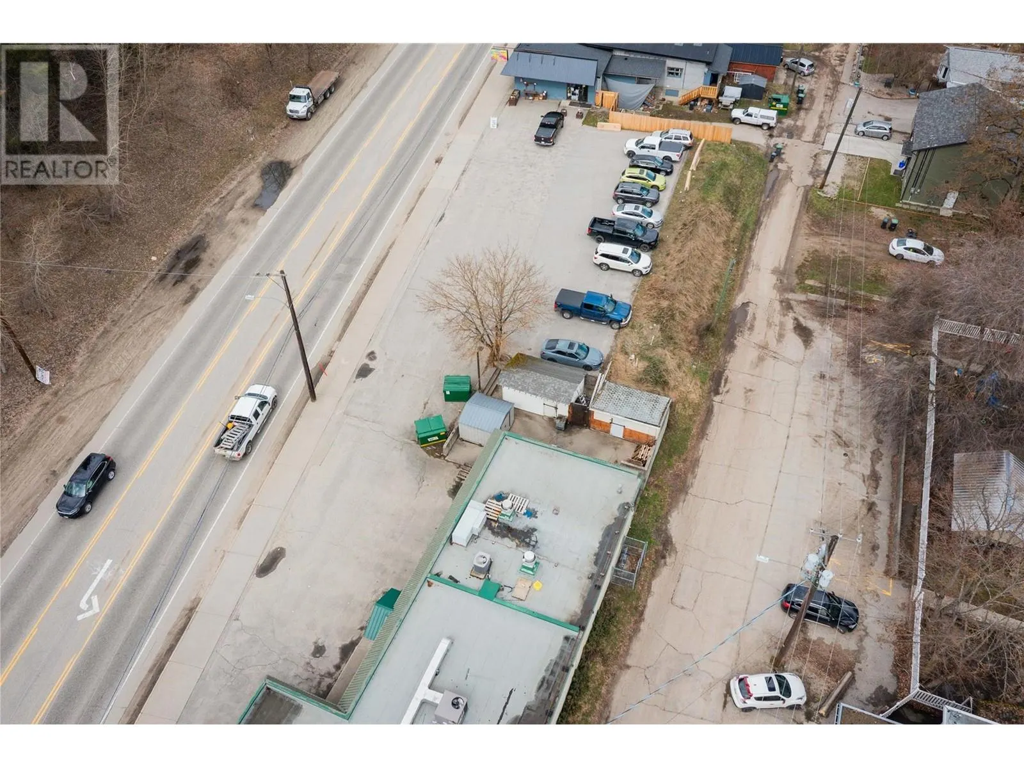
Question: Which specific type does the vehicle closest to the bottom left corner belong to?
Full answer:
The vehicle closest to the bottom left corner appears to be an automobile.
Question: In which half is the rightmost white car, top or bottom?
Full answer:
The rightmost white car is in the top half of the image.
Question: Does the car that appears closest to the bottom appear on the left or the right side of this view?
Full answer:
The car that appears closest to the bottom sits on the right side.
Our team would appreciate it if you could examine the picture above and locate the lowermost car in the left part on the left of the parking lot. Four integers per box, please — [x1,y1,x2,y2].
[57,452,124,520]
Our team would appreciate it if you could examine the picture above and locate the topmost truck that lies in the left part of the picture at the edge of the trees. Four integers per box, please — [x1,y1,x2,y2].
[288,71,344,118]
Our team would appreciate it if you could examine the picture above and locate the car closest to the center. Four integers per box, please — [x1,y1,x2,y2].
[541,341,603,372]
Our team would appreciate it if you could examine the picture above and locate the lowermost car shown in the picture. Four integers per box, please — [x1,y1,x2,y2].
[727,670,808,715]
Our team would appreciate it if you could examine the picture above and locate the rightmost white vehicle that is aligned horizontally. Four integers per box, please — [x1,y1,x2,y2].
[888,240,943,268]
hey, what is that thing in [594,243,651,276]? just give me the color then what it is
white car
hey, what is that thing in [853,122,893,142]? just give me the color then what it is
gray car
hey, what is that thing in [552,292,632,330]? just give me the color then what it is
blue truck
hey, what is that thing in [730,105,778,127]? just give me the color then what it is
white truck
